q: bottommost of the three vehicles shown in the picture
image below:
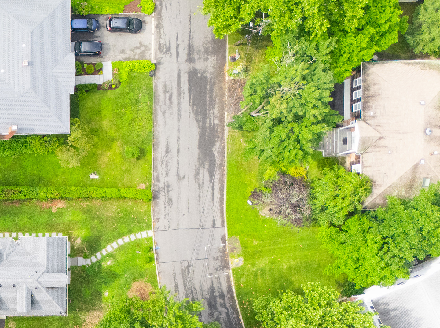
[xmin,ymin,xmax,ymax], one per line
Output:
[71,38,102,57]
